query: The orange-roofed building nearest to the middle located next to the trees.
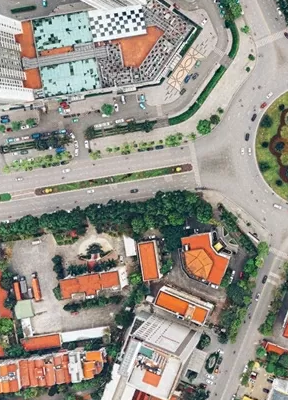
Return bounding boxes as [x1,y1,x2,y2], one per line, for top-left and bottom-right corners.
[137,238,165,282]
